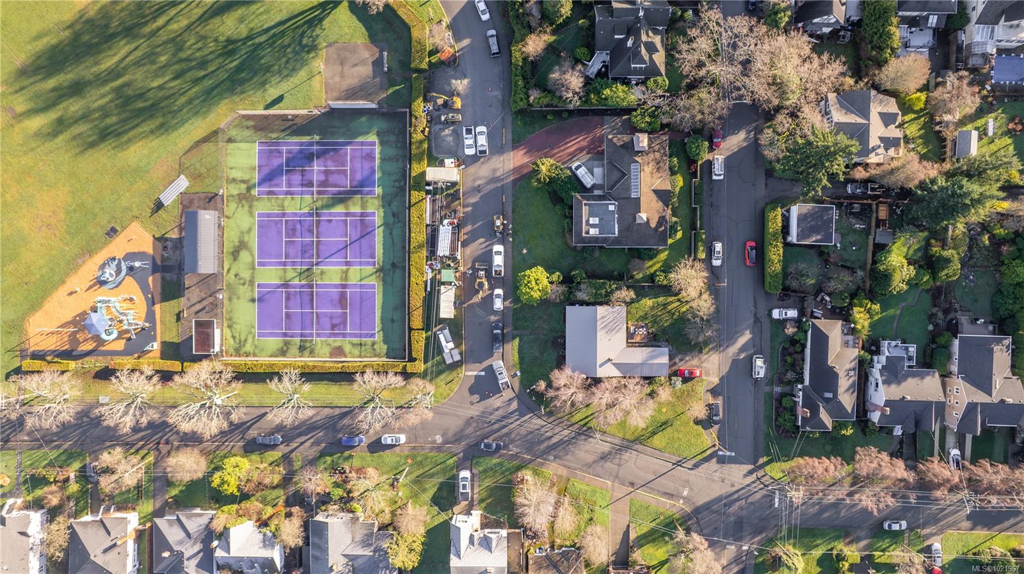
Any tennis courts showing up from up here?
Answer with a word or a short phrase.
Yes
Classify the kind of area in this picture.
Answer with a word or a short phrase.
residential area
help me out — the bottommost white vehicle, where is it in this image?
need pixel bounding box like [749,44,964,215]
[931,542,944,566]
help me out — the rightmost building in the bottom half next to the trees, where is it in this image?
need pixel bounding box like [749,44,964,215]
[940,317,1024,435]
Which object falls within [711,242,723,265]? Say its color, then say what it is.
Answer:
white vehicle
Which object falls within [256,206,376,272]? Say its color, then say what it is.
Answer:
purple tennis court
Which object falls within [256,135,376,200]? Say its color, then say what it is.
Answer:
purple tennis court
